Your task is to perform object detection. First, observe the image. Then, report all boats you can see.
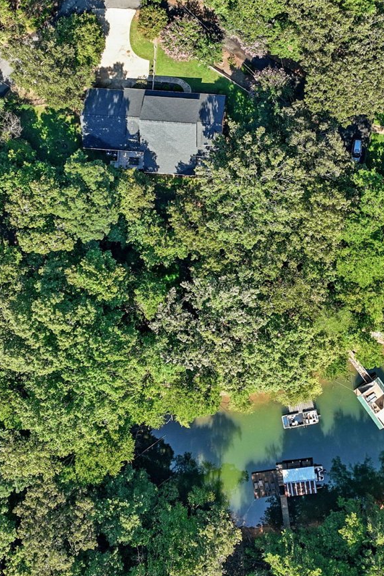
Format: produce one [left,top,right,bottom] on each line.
[314,469,329,480]
[283,410,320,428]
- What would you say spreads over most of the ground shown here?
trees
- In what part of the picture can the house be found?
top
